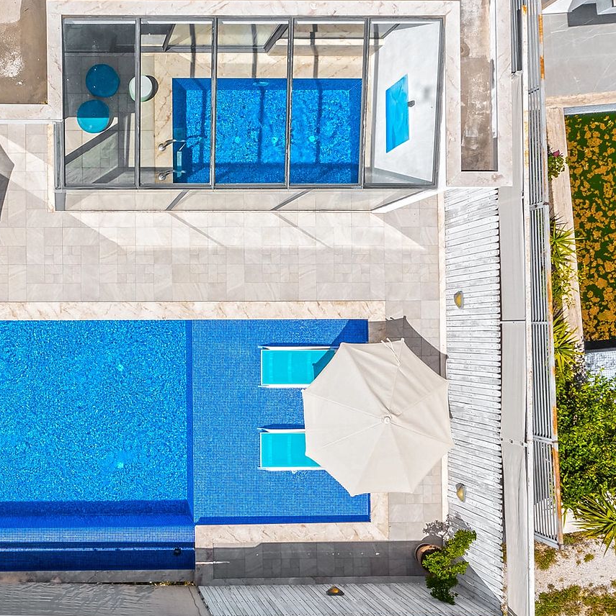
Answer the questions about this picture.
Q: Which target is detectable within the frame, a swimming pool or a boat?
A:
swimming pool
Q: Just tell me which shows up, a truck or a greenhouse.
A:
greenhouse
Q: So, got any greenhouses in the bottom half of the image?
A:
No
